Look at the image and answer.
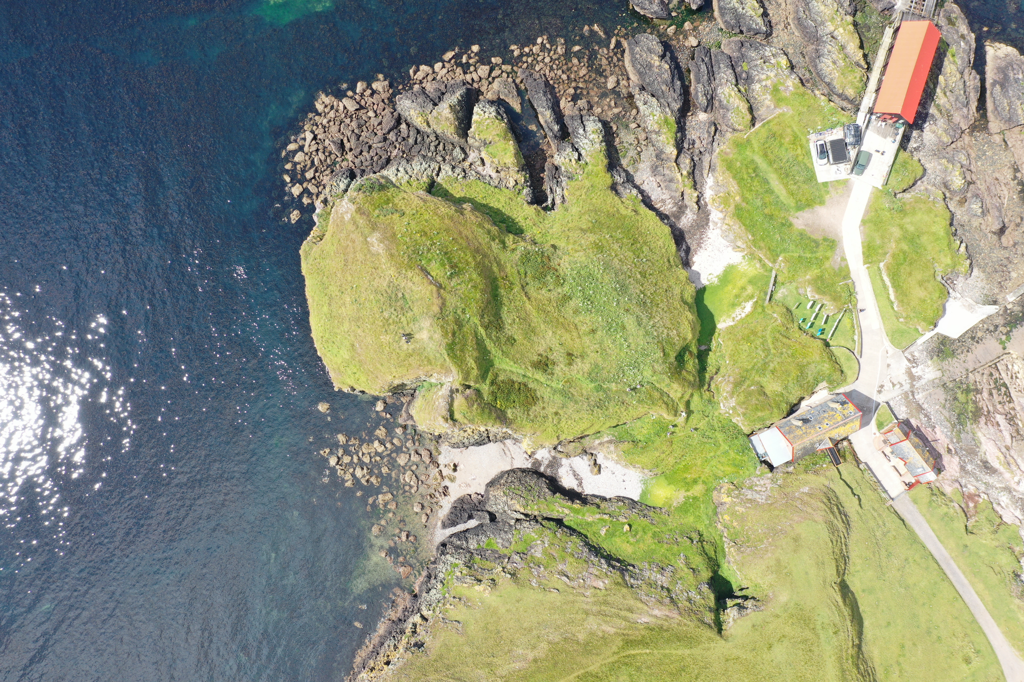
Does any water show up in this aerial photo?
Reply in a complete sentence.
Yes, there's water in this view.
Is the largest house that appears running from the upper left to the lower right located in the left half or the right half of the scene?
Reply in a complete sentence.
The largest house that appears running from the upper left to the lower right is on the right side of the image.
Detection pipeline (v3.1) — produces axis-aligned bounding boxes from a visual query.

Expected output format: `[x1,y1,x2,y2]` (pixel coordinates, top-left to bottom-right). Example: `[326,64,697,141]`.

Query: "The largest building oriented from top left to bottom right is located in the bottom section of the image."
[877,422,937,484]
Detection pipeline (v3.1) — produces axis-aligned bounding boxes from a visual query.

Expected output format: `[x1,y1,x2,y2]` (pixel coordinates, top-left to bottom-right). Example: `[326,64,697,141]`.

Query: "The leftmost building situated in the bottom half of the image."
[746,393,862,468]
